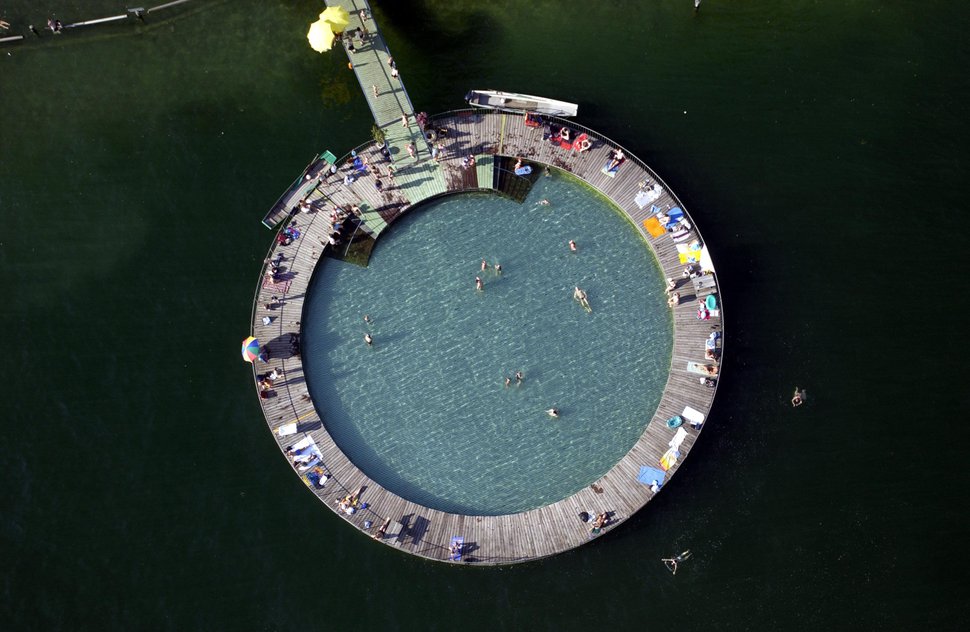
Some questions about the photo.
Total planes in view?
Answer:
none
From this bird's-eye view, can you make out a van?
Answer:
No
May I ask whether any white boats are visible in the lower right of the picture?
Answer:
No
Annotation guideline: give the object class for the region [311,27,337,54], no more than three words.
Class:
umbrella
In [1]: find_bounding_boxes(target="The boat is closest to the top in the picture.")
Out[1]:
[466,90,578,115]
